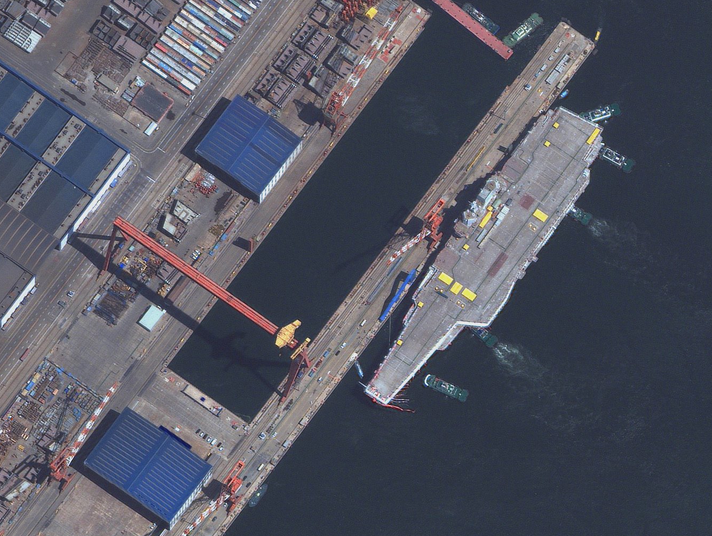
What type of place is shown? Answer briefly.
port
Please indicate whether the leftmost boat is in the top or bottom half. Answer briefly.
bottom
